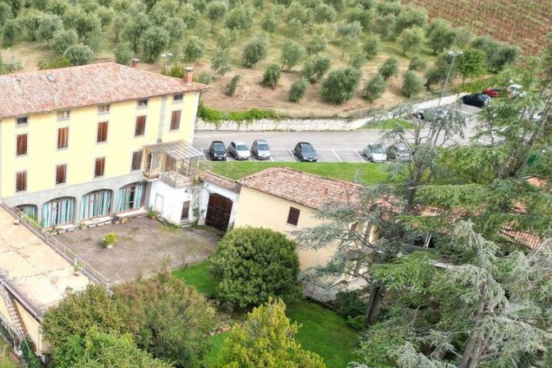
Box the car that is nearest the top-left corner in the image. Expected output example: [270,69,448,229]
[209,137,227,157]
